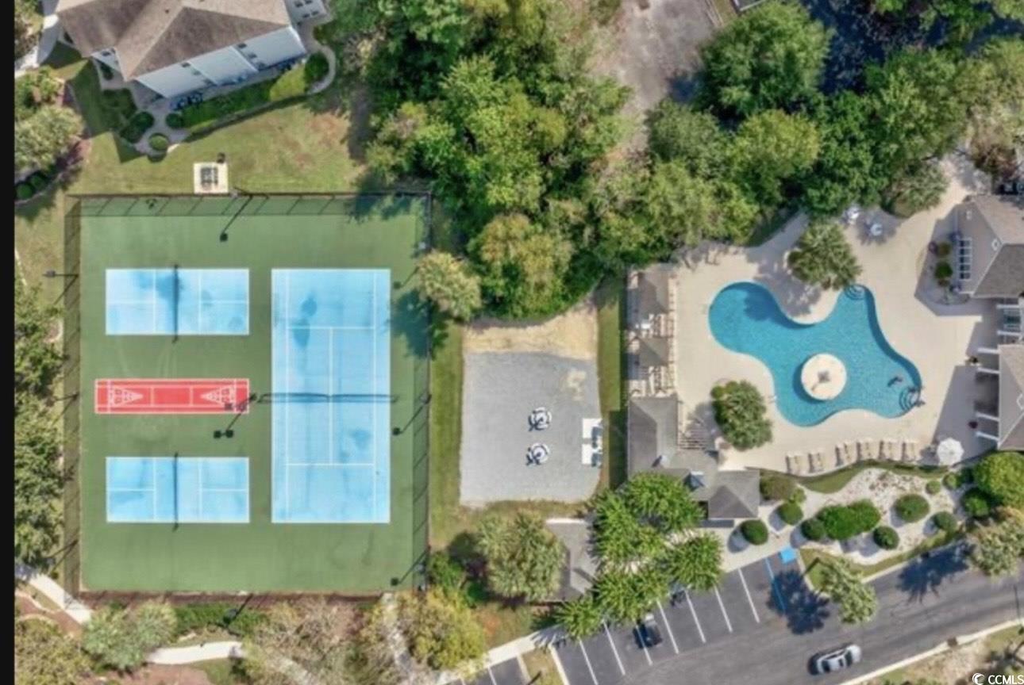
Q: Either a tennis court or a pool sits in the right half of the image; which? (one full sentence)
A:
There is a pool in the right half of the image.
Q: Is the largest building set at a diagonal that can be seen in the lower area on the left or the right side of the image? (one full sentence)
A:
The largest building set at a diagonal that can be seen in the lower area is on the right side of the image.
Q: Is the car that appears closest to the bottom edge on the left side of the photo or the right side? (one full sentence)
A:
It is on the right.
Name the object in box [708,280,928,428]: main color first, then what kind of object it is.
blue swimming pool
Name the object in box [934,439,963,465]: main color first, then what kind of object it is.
white umbrella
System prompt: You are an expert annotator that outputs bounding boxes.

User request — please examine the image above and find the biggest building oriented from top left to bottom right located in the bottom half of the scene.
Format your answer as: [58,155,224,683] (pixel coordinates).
[626,397,759,519]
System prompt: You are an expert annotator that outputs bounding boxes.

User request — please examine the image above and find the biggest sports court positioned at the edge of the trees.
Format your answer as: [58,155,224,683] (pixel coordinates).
[79,195,429,595]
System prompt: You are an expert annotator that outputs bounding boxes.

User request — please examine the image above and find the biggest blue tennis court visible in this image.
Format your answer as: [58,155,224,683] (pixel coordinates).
[257,269,399,523]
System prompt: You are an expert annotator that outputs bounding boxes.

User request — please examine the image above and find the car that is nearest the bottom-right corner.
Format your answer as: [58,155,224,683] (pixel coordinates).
[810,641,861,675]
